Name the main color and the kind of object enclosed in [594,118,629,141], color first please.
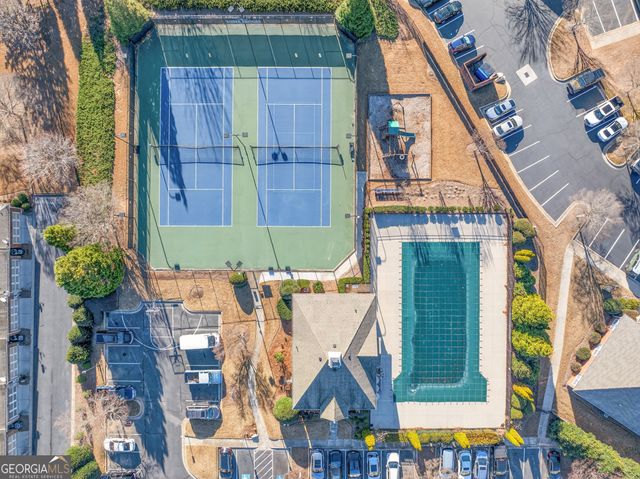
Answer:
white car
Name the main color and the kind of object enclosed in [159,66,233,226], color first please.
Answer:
blue tennis court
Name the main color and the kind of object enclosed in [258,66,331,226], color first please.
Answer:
blue tennis court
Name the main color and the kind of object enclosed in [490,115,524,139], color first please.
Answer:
white car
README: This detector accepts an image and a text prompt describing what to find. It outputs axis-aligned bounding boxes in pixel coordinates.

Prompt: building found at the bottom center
[291,293,381,425]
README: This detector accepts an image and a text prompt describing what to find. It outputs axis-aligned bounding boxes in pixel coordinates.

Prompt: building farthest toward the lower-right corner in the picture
[563,314,640,436]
